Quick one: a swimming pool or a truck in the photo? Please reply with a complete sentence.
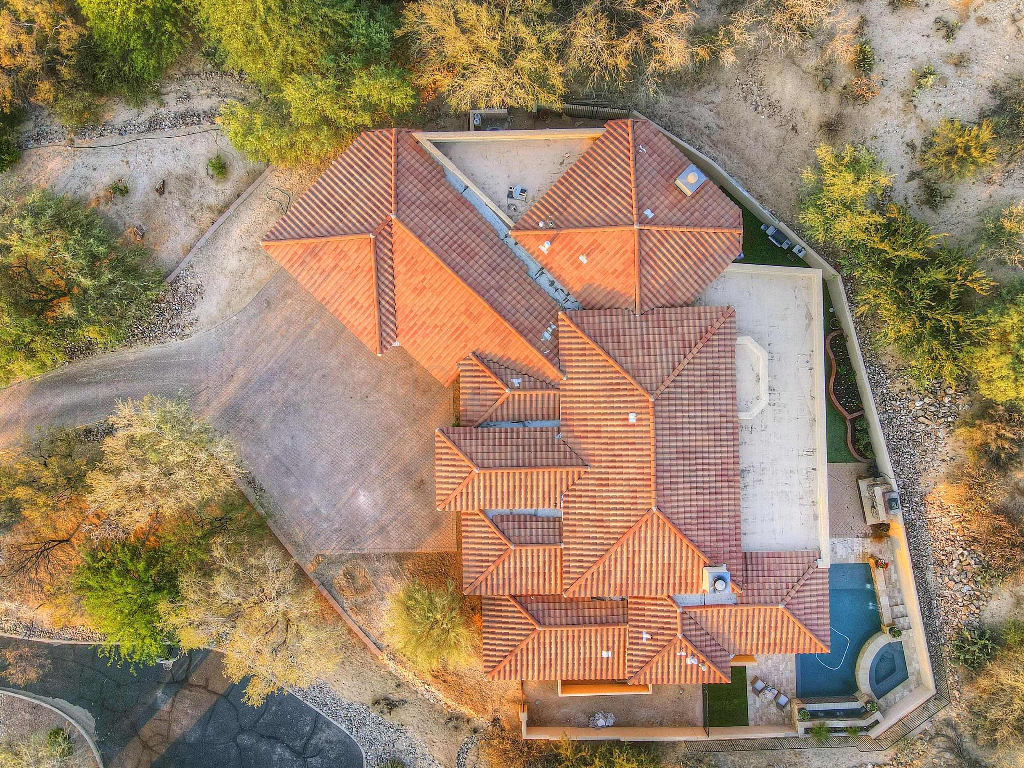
The one in the frame is a swimming pool.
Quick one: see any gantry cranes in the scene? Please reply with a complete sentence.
No, the scene contains no gantry crane.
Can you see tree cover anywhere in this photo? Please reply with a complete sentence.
Yes, some tree cover is visible.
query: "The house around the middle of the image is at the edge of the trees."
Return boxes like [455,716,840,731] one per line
[259,118,832,696]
